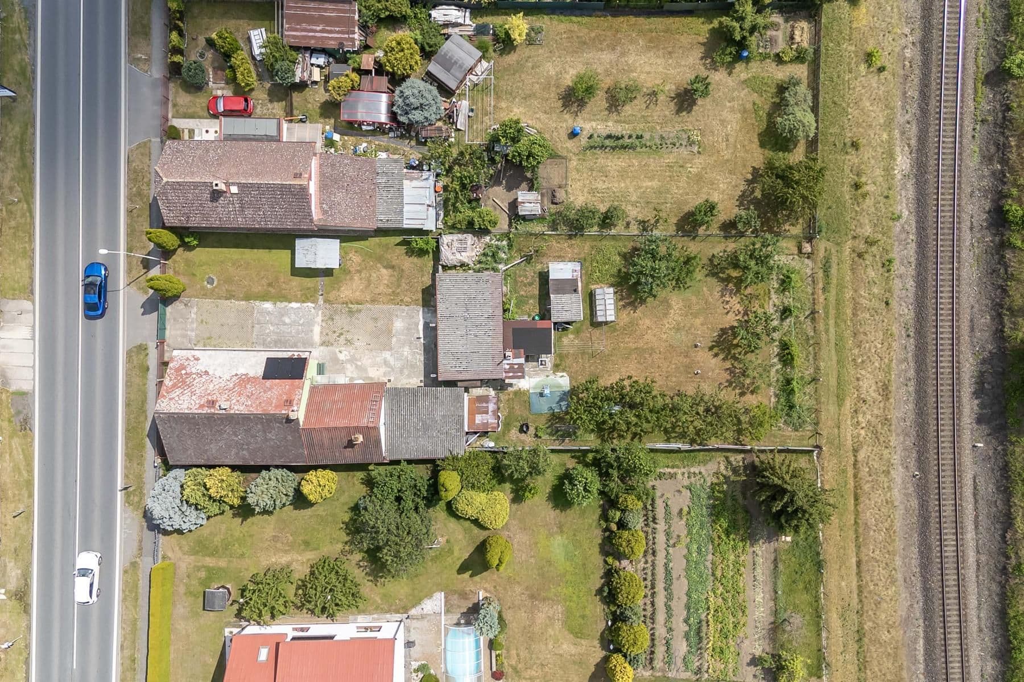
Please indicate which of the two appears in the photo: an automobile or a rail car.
automobile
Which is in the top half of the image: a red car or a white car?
red car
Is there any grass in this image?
Yes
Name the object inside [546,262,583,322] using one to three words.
shed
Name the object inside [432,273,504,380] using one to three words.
building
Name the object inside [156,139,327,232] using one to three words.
house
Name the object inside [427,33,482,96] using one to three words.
shed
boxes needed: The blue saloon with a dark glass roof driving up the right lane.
[80,263,110,318]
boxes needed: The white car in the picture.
[73,550,103,604]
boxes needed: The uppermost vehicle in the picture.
[209,92,255,117]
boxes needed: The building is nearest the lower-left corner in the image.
[201,590,227,611]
